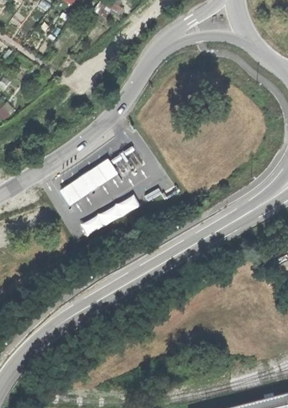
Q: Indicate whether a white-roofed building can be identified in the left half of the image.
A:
Yes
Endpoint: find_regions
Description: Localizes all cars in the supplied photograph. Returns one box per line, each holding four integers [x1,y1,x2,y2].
[76,142,87,151]
[116,102,126,113]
